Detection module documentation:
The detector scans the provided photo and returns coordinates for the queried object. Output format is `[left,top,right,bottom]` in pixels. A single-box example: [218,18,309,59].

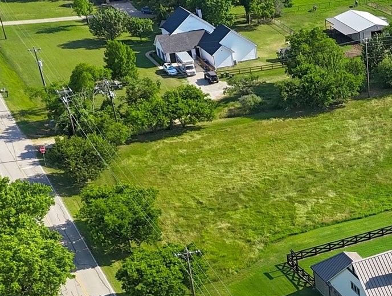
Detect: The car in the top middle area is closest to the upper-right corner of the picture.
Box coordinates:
[204,71,219,83]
